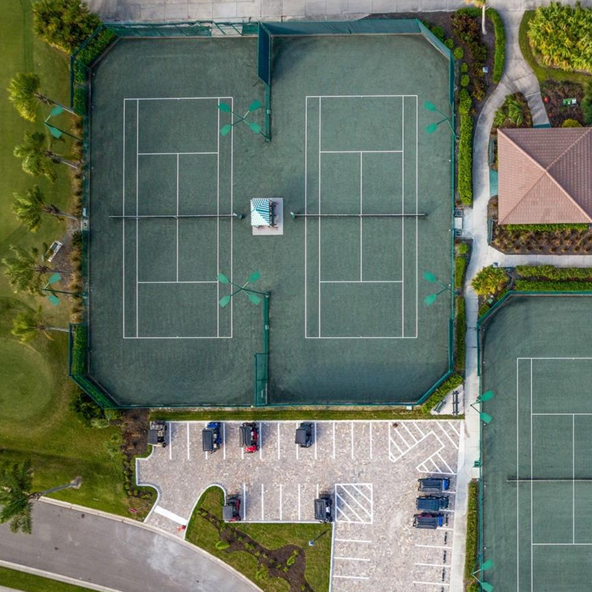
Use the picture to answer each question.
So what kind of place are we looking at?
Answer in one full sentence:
The area seen from above is a sports ground.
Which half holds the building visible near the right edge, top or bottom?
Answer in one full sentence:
The building visible near the right edge sits in the top half of the picture.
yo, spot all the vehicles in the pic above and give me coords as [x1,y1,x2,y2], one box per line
[295,421,313,448]
[413,514,446,530]
[314,492,332,522]
[418,477,450,492]
[239,420,258,453]
[202,420,222,454]
[417,495,450,512]
[146,417,167,448]
[222,494,241,522]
